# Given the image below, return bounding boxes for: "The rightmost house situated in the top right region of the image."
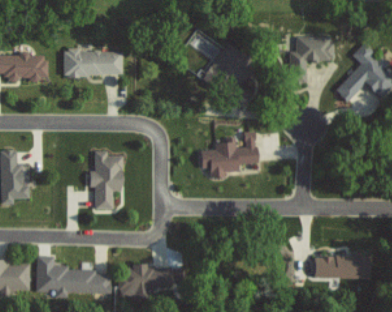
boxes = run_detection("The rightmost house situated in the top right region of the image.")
[337,44,392,102]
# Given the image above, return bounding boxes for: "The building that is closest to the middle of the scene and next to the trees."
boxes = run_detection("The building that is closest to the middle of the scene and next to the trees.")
[202,132,259,180]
